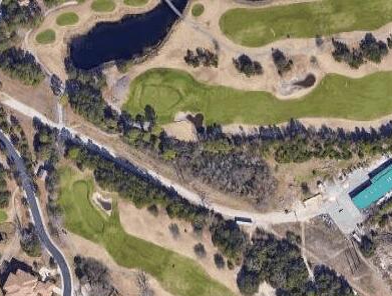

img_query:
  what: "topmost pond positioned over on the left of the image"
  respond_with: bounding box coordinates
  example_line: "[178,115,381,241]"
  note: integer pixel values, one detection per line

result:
[70,0,190,69]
